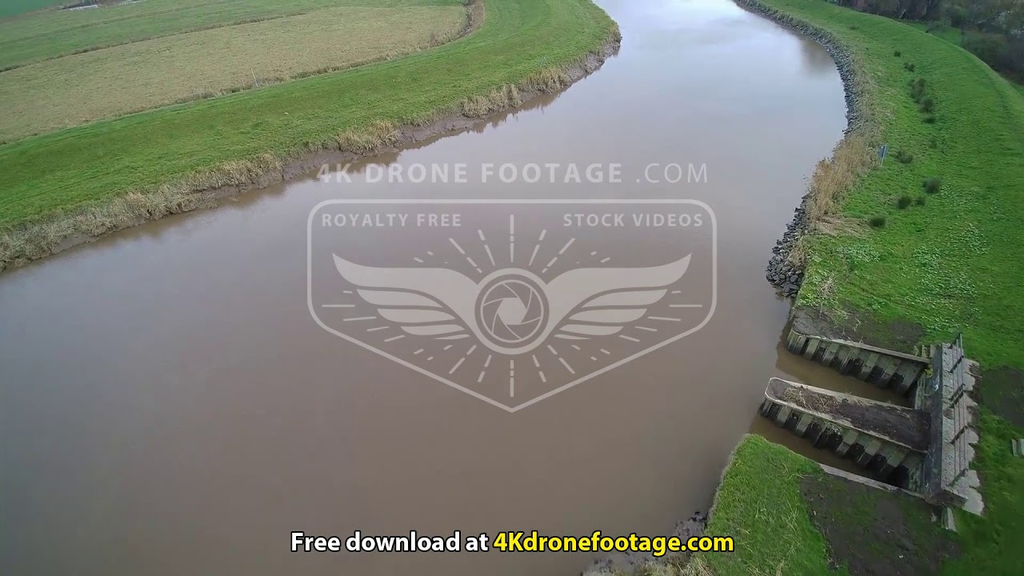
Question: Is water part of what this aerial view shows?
Yes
